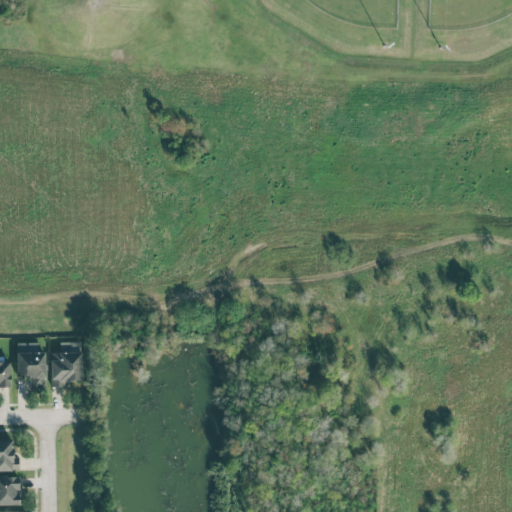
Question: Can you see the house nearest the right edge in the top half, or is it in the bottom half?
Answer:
bottom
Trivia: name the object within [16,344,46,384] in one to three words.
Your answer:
house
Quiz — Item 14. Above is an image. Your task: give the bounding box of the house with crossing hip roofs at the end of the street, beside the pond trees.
[51,343,82,384]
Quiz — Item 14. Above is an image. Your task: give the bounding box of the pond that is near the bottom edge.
[104,340,220,512]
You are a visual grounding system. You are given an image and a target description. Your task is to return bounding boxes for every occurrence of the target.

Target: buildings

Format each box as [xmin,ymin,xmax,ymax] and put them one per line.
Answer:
[0,362,11,388]
[16,344,46,384]
[0,442,18,472]
[0,476,21,507]
[51,343,82,384]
